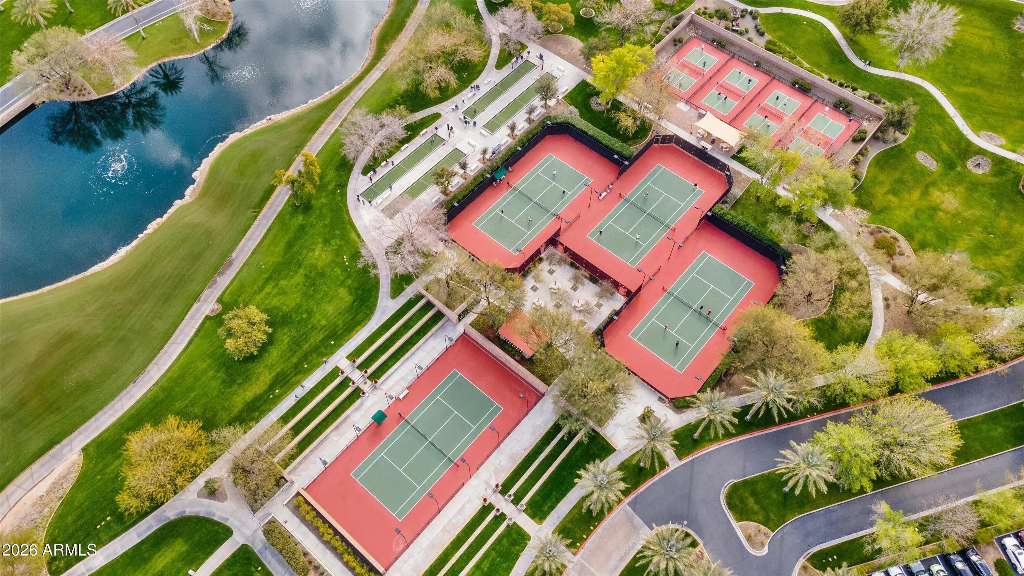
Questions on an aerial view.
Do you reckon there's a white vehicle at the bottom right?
Yes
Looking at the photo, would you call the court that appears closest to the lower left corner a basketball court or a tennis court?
tennis court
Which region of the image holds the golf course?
left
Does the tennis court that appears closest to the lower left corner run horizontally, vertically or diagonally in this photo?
diagonally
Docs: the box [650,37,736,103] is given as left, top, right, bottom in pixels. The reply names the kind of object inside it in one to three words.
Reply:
sports court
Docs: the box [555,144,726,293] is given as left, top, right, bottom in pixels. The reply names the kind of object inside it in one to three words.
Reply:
tennis court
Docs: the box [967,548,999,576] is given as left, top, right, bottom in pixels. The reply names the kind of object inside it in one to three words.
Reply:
car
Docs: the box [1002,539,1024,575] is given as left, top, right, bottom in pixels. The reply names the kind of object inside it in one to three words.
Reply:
car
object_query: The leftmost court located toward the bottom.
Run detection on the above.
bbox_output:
[304,332,544,569]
